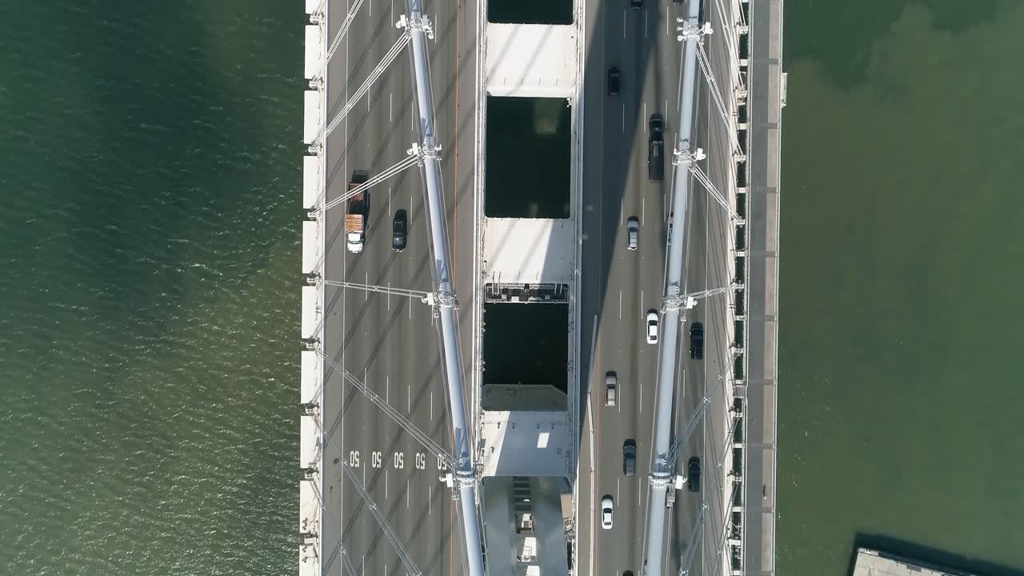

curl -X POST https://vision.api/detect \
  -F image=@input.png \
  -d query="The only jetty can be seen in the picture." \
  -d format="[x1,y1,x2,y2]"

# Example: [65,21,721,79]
[848,543,984,576]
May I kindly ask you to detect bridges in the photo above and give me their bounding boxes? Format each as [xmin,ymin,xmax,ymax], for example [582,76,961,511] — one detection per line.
[300,0,791,576]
